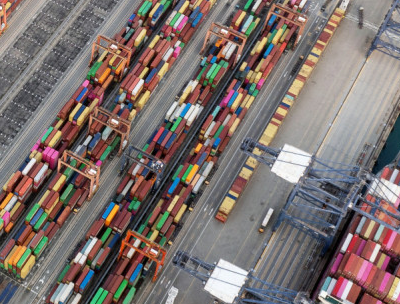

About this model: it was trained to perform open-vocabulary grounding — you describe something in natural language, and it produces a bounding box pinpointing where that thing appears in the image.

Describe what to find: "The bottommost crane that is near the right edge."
[244,135,400,262]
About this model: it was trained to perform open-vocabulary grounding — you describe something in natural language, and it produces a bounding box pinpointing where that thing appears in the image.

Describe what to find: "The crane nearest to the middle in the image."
[117,144,166,195]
